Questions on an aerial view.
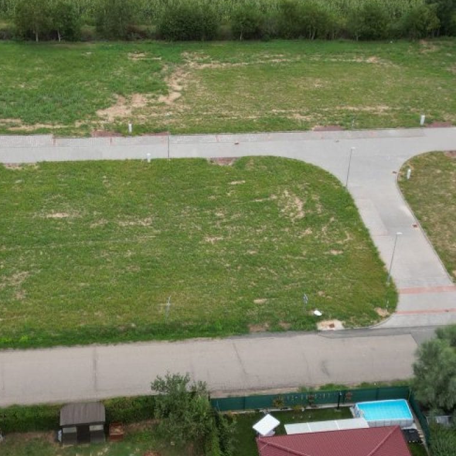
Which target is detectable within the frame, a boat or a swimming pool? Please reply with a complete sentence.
This aerial view contains a swimming pool.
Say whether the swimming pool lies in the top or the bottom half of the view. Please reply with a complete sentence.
The bottom half of the photo is where the swimming pool is.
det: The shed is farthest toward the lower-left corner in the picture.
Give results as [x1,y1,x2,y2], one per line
[58,393,107,449]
